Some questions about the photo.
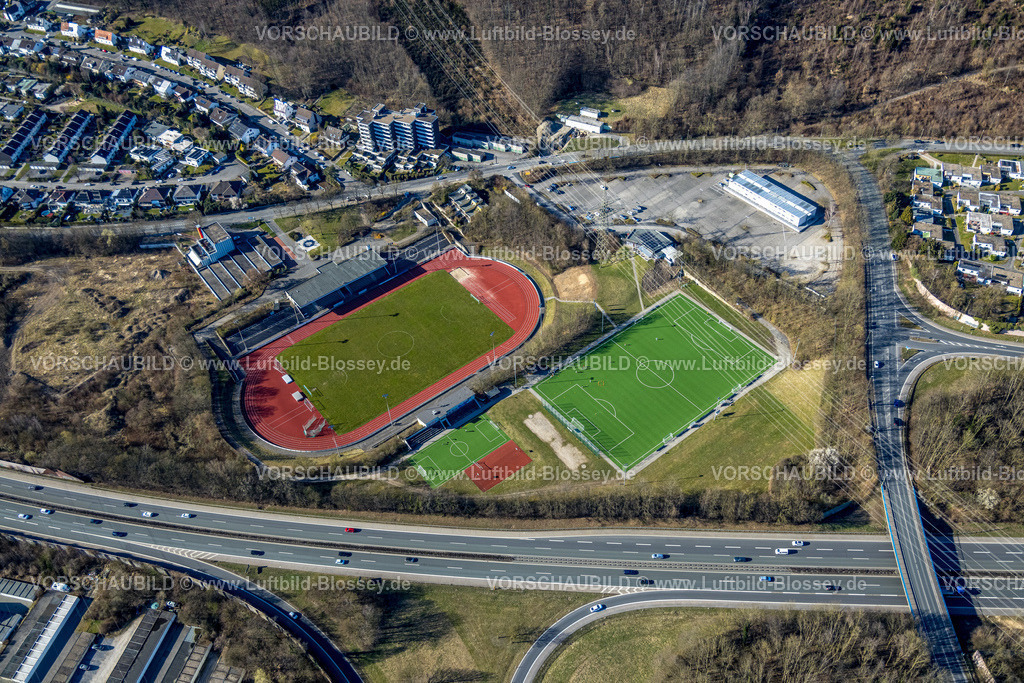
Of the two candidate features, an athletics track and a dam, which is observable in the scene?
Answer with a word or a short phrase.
athletics track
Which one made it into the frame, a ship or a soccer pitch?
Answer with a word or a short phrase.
soccer pitch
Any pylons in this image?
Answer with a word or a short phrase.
Yes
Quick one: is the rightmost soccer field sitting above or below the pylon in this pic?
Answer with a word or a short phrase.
below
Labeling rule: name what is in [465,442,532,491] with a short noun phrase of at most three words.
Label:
sports court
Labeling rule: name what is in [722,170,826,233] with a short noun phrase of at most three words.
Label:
building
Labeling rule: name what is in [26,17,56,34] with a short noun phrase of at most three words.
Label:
house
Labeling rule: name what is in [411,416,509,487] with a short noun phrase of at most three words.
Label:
soccer field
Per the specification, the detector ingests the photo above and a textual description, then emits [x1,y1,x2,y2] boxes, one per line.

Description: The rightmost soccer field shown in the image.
[522,287,790,483]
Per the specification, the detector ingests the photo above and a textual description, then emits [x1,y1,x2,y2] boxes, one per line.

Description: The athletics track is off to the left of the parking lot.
[235,247,540,450]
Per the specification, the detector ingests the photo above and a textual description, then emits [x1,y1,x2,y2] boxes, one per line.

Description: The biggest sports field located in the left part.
[273,266,516,434]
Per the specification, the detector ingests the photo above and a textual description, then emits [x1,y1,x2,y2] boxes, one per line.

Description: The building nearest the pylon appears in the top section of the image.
[626,230,683,263]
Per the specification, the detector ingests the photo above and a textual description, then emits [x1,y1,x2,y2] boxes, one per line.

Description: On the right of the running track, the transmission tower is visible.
[590,195,630,271]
